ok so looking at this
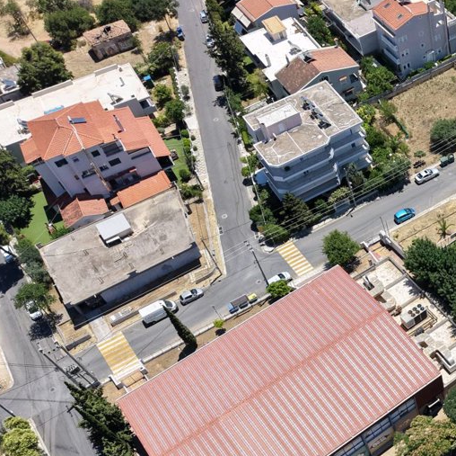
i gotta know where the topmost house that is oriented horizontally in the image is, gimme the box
[227,0,305,33]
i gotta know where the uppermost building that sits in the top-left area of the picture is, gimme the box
[83,21,132,57]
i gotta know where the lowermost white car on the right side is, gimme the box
[264,267,291,284]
